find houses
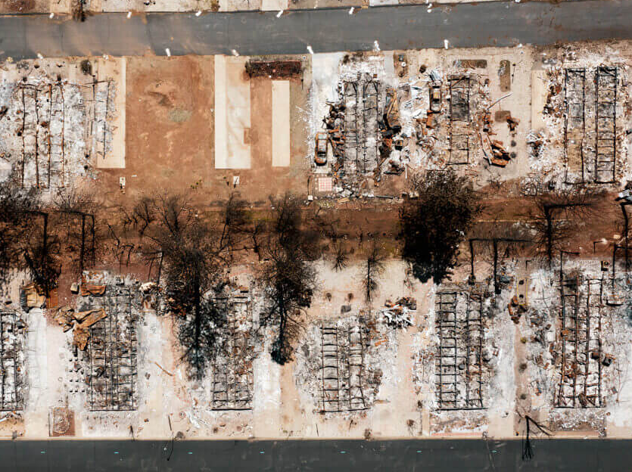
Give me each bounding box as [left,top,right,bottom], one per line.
[88,306,141,413]
[313,319,367,413]
[441,77,473,173]
[11,83,67,187]
[556,279,610,409]
[554,67,619,184]
[434,292,485,410]
[0,311,27,419]
[208,299,255,410]
[341,66,382,187]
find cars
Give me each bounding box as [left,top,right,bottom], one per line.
[429,83,444,113]
[315,132,329,165]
